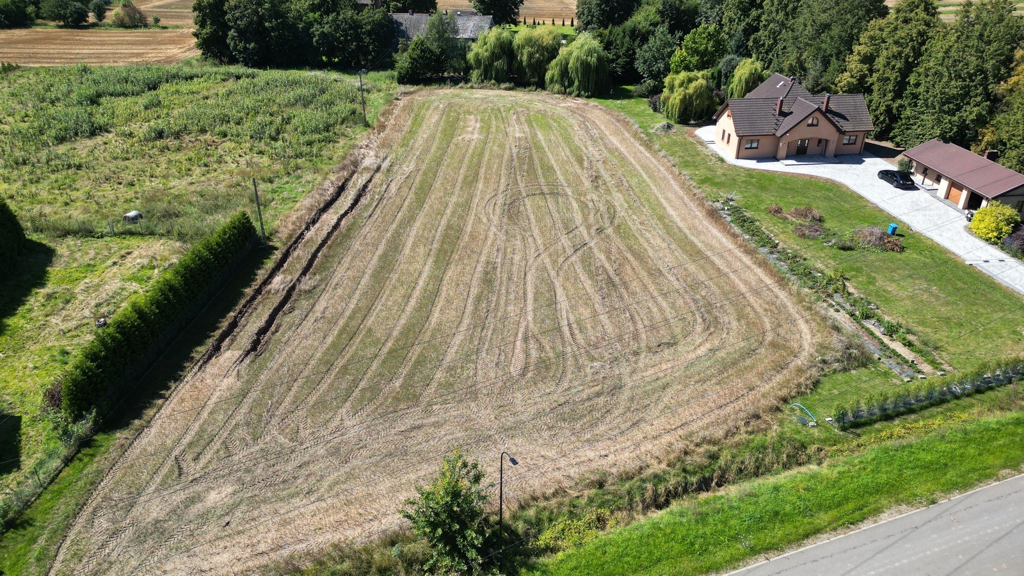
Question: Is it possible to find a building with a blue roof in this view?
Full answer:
No, I can't see a single building with a blue roof in this photo.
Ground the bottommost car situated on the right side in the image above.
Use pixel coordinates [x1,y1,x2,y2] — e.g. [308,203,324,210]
[877,167,914,184]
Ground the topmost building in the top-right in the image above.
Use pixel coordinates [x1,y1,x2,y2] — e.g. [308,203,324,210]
[704,69,873,162]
